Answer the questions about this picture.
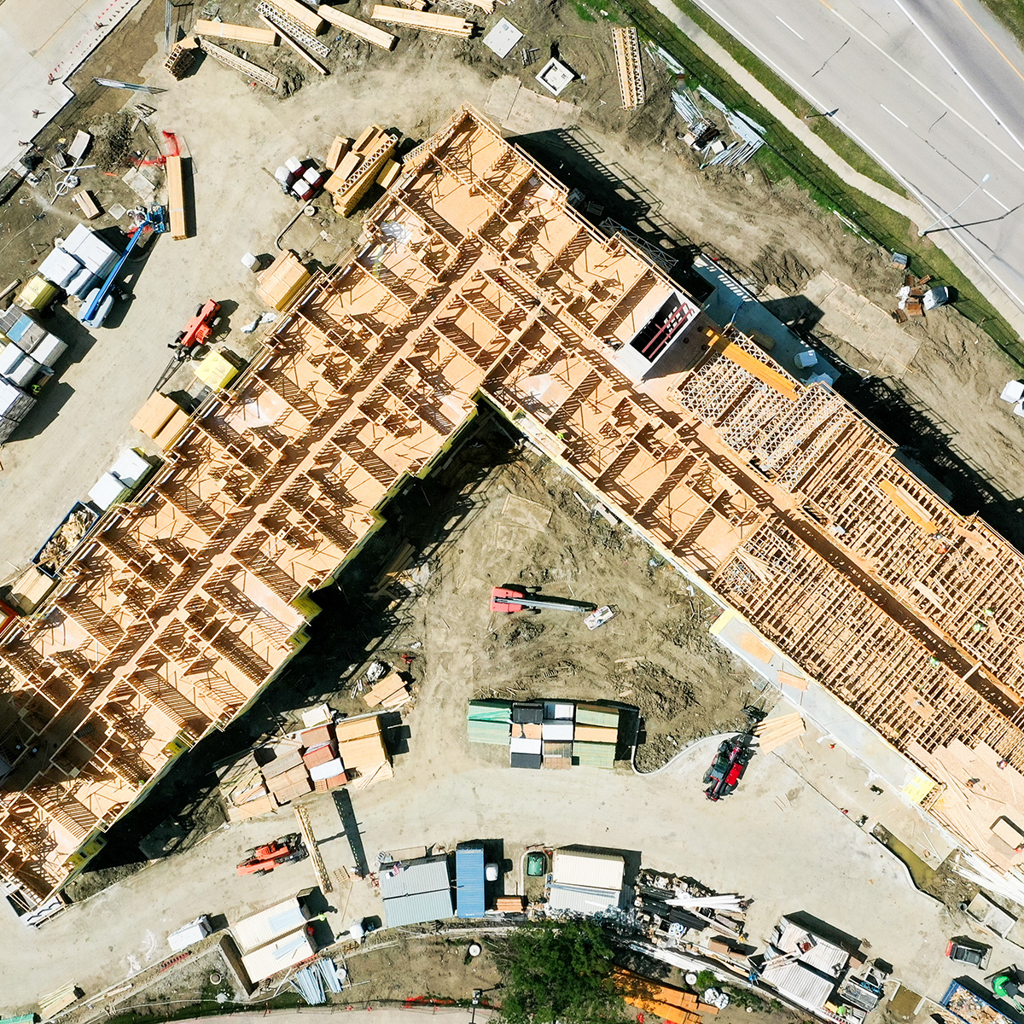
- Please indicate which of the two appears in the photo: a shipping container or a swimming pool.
shipping container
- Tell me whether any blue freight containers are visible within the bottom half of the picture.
Yes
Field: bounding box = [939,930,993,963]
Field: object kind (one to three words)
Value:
truck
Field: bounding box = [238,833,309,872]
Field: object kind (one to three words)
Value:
work vehicle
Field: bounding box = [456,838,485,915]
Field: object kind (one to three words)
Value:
shipping container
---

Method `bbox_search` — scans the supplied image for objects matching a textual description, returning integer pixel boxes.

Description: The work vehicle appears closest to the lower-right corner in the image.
[972,967,1024,1013]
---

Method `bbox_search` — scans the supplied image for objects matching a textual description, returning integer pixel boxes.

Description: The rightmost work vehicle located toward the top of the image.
[160,296,227,383]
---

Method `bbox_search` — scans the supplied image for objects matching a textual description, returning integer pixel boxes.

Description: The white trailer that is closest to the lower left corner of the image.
[170,911,214,948]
